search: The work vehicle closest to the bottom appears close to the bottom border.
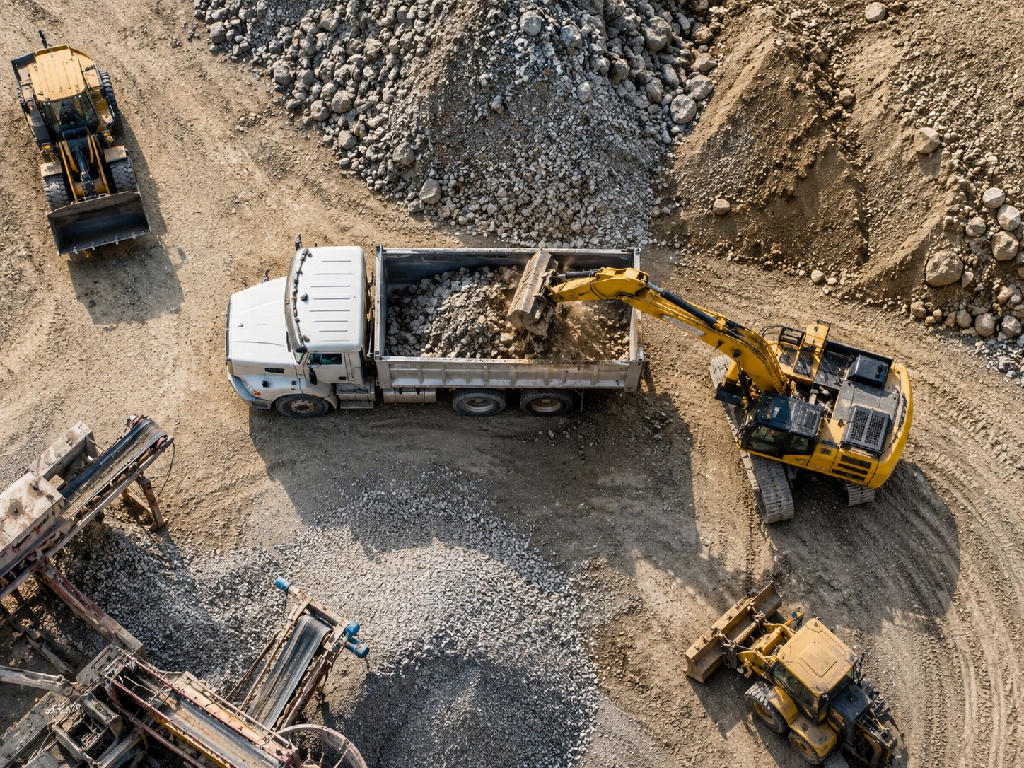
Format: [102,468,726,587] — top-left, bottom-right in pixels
[674,577,899,768]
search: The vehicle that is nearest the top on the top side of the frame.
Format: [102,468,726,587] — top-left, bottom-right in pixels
[19,29,155,260]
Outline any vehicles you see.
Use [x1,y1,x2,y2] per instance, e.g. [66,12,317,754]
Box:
[19,29,155,260]
[510,244,913,523]
[220,233,646,415]
[674,577,899,768]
